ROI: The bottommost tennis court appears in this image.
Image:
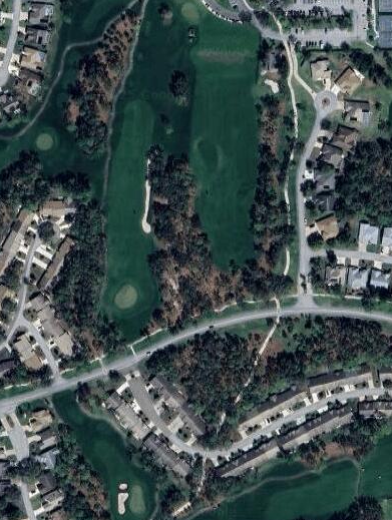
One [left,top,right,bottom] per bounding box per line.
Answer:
[378,16,392,49]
